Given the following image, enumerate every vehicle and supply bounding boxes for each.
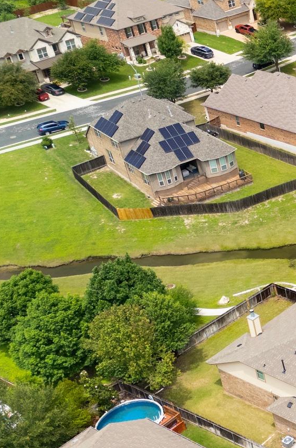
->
[28,88,50,99]
[190,45,213,57]
[36,118,67,133]
[42,84,64,94]
[234,23,252,37]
